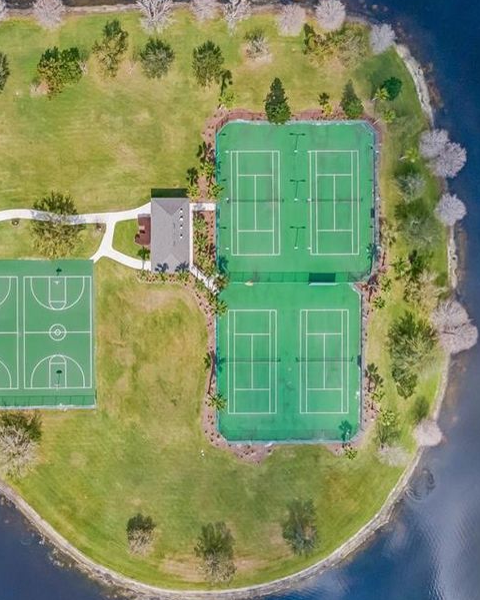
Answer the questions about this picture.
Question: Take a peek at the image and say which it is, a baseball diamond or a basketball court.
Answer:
basketball court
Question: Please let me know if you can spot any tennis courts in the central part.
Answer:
Yes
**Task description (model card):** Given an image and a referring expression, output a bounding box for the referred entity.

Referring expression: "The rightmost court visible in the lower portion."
[289,284,361,442]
